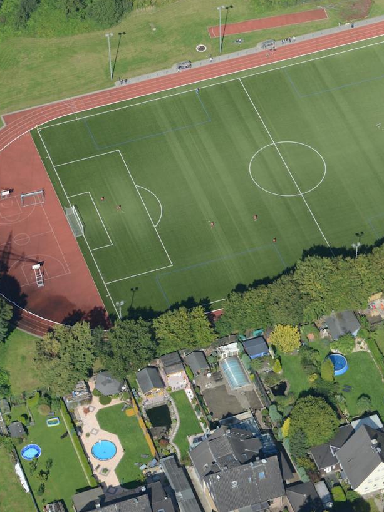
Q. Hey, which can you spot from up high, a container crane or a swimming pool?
swimming pool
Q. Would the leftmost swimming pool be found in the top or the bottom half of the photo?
bottom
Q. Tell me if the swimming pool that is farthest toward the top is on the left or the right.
right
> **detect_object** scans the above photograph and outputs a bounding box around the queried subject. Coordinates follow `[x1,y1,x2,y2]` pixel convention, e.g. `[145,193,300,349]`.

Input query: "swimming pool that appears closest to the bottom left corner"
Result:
[18,441,44,460]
